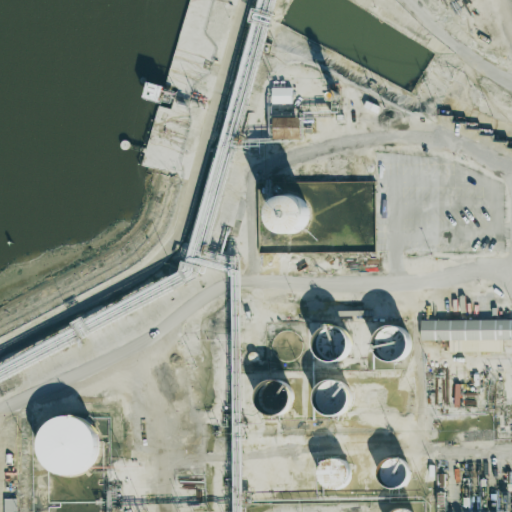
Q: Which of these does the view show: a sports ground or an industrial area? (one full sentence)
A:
This image shows an industrial area.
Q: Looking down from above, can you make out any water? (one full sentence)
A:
Yes, there is water in the image.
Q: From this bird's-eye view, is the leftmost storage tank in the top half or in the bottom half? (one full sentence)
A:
It is in the bottom half that the leftmost storage tank appears.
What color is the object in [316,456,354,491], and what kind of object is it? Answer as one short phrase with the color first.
white storage tank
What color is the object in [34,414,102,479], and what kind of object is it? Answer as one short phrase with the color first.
white storage tank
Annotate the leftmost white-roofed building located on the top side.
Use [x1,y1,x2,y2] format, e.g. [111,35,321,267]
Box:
[142,81,168,104]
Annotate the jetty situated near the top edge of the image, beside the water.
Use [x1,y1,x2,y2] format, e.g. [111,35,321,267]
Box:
[142,0,233,179]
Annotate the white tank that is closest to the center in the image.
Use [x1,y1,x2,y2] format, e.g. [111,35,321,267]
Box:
[262,192,312,236]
